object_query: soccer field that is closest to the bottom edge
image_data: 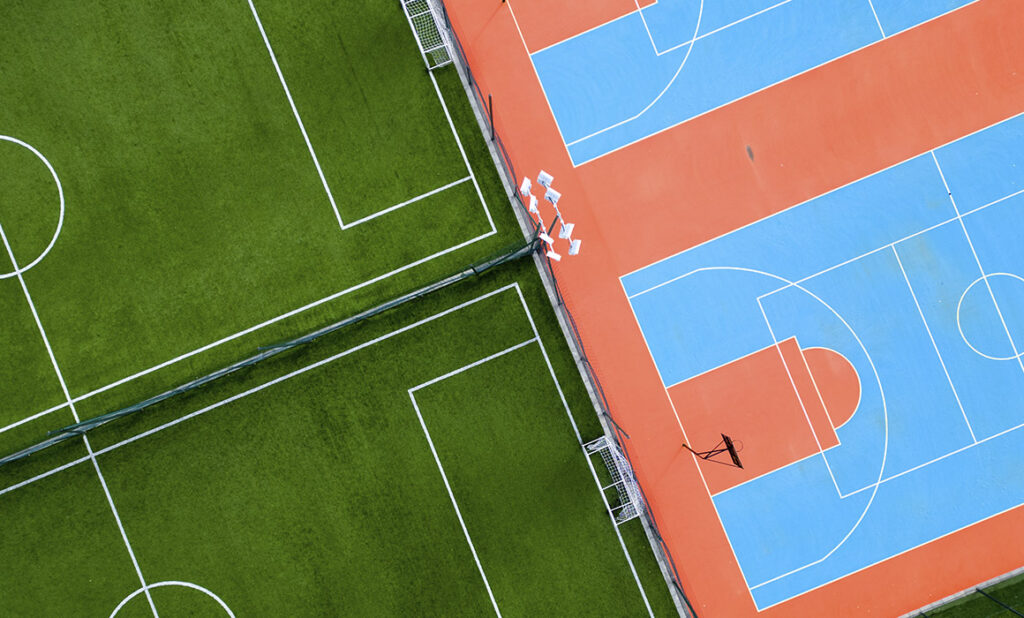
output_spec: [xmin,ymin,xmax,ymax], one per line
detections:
[0,253,681,618]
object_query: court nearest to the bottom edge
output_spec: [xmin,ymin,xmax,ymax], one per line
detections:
[619,112,1024,612]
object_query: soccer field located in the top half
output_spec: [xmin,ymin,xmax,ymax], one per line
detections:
[0,0,528,460]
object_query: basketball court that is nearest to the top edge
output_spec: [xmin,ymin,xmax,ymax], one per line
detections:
[505,0,981,168]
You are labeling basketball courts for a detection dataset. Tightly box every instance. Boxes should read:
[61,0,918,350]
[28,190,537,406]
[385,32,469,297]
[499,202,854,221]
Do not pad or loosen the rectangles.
[505,0,981,168]
[619,112,1024,612]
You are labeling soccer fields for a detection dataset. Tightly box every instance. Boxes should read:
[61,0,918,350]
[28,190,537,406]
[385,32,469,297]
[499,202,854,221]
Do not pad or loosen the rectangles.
[0,0,528,460]
[0,253,681,618]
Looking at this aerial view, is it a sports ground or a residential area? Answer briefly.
sports ground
